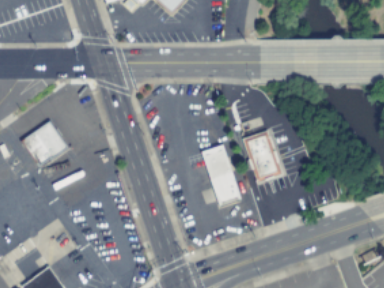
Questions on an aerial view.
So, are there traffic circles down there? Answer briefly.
No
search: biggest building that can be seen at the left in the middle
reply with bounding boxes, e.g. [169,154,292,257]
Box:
[22,122,71,167]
